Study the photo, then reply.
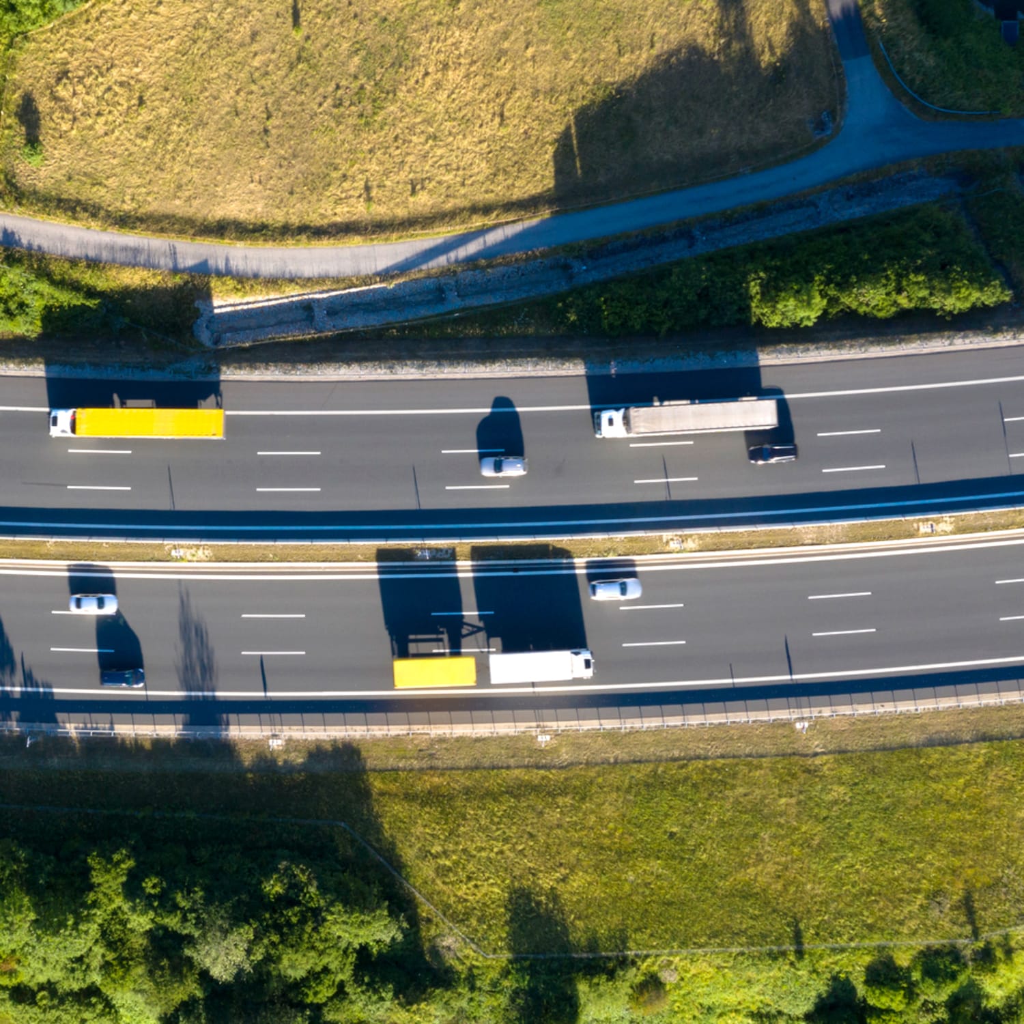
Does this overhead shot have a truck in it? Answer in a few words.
Yes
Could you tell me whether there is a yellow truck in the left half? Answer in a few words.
Yes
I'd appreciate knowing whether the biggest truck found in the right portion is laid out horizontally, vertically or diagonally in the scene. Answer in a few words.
horizontally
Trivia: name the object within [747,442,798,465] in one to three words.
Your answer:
car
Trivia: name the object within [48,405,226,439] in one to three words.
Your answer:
truck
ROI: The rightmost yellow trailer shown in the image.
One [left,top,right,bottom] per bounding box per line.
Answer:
[393,653,489,687]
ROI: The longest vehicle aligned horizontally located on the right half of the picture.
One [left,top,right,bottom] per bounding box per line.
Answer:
[592,401,779,443]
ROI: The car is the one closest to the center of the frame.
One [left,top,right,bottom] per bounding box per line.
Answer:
[480,455,528,478]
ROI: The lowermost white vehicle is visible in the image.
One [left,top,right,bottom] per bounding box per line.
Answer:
[488,646,594,683]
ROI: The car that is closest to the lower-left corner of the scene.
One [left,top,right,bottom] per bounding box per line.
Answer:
[100,667,145,690]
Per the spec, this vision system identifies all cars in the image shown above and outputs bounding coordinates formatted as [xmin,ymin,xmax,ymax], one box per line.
[70,593,119,616]
[480,455,528,478]
[592,577,643,600]
[100,667,145,690]
[747,442,798,465]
